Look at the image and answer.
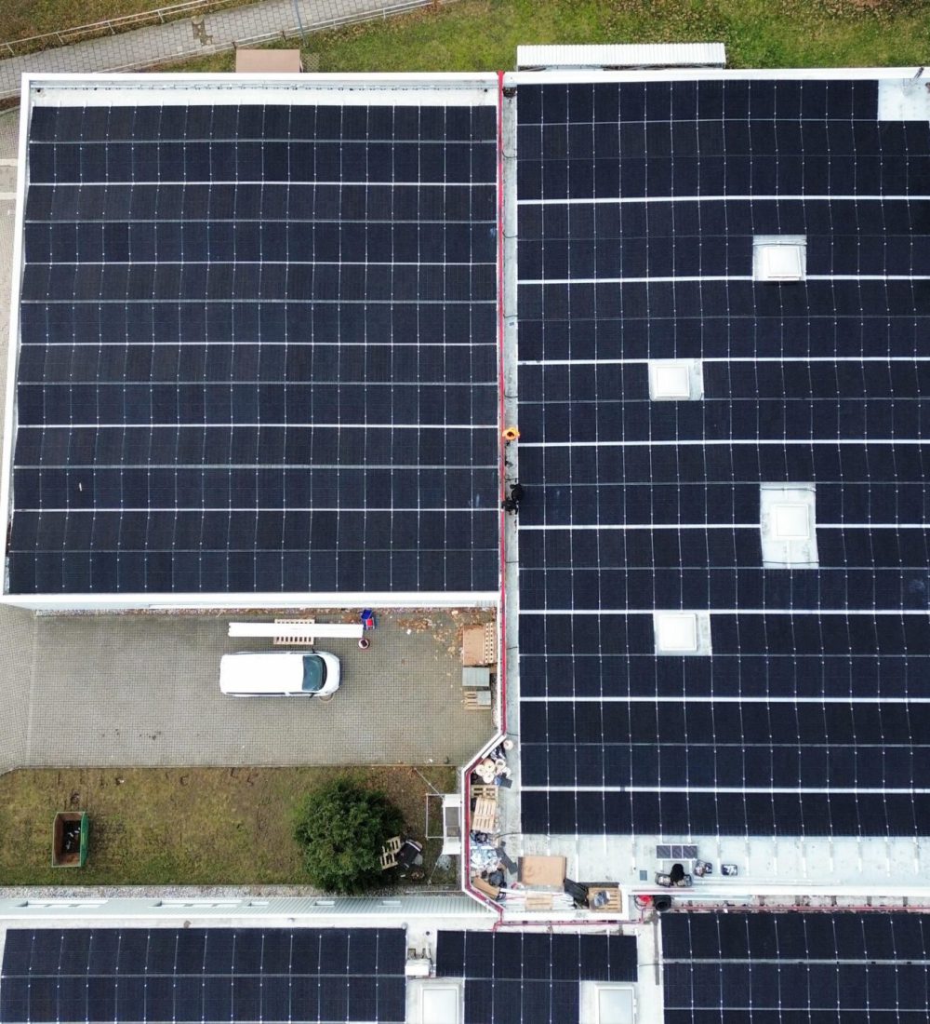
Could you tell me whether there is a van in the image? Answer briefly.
Yes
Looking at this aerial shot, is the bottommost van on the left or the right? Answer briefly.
left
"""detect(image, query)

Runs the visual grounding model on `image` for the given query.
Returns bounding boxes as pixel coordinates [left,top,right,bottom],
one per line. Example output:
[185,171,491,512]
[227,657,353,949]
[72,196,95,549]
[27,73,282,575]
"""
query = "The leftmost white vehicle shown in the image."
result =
[220,646,343,700]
